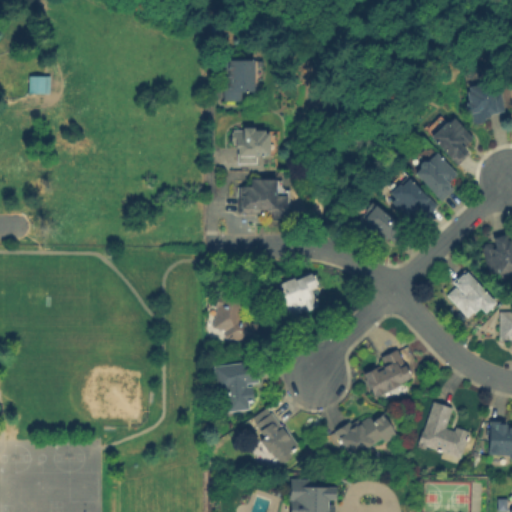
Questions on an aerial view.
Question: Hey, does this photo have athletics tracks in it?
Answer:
No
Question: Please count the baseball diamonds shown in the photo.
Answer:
1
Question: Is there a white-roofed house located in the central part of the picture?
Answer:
Yes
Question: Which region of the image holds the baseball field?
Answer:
bottom left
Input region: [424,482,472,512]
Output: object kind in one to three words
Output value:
sports court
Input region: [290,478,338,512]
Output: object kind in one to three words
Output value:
house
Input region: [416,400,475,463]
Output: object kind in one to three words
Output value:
house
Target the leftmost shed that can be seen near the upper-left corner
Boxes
[30,73,50,95]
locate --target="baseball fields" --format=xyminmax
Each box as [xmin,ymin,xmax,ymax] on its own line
[82,366,150,431]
